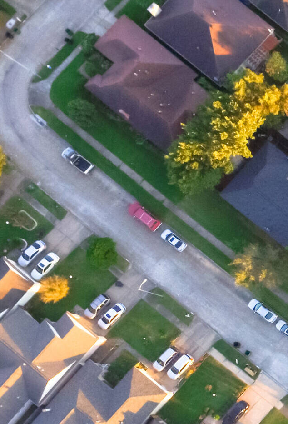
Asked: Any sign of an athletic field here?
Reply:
No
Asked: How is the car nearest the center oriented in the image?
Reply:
diagonally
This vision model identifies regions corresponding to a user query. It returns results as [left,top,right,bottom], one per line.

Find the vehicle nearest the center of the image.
[127,200,164,233]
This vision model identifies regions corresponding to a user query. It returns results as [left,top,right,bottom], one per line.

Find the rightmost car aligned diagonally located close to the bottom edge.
[221,397,253,424]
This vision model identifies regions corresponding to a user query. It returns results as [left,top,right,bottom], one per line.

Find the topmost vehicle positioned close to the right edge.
[246,296,281,326]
